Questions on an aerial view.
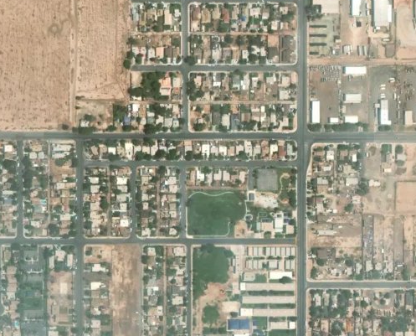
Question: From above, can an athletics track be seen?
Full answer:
No, there isn't any athletics track down there.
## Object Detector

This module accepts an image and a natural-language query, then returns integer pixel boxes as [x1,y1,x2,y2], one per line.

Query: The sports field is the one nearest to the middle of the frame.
[184,191,251,239]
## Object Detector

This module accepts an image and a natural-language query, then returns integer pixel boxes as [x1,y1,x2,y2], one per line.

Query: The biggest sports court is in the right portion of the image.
[257,169,277,191]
